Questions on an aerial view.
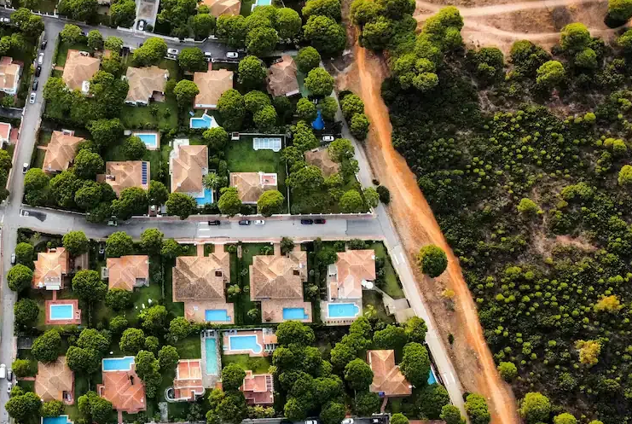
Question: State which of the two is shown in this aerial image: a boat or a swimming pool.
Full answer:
I can see a swimming pool in this picture.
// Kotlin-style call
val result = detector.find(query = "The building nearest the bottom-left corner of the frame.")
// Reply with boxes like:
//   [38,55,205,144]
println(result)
[35,355,76,402]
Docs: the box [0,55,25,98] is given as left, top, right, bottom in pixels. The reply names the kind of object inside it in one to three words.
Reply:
house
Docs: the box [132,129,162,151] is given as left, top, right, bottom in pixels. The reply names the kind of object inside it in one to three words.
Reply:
swimming pool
